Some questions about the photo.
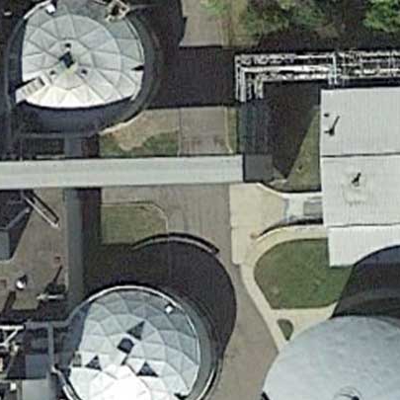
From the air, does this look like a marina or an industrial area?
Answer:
industrial area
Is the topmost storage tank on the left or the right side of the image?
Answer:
left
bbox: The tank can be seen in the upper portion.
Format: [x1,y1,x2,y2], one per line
[3,0,168,137]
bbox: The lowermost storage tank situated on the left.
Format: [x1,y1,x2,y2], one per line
[63,285,217,400]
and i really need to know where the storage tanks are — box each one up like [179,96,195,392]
[3,0,168,137]
[261,314,400,400]
[63,285,217,400]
